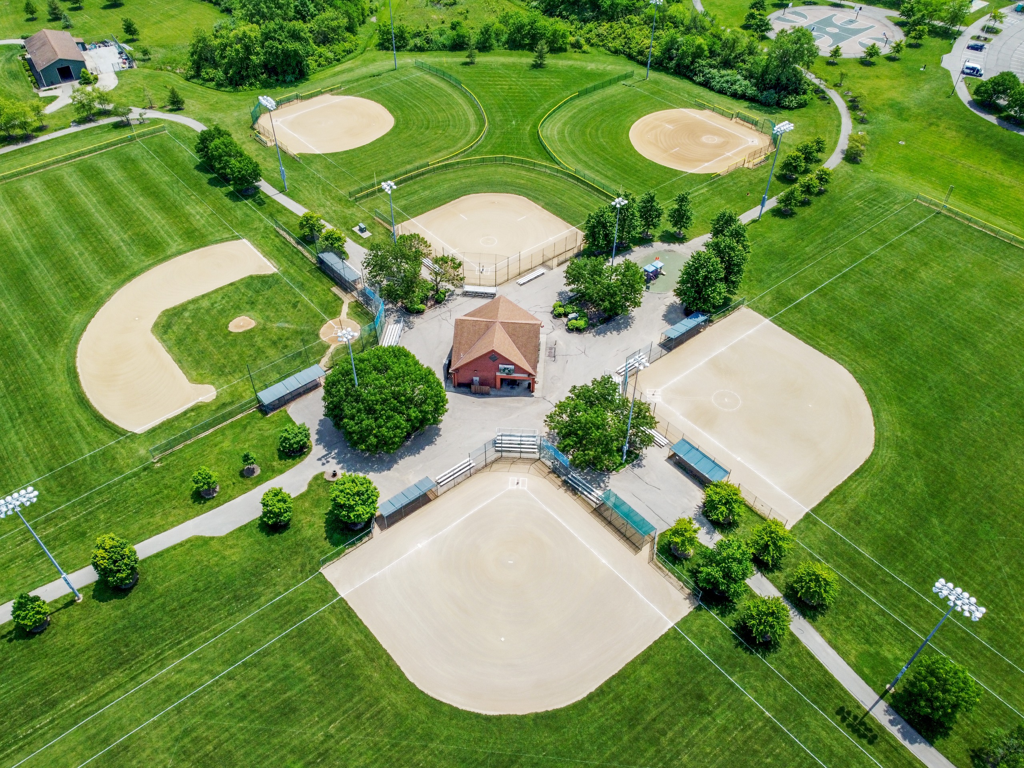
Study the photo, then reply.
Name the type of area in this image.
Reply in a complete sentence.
It's a sports ground.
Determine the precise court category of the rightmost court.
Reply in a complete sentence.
Specifically, the rightmost court is a basketball court.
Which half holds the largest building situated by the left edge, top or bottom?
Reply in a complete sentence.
You can find the largest building situated by the left edge in the top half.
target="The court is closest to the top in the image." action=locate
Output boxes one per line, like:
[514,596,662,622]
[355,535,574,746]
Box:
[767,6,906,58]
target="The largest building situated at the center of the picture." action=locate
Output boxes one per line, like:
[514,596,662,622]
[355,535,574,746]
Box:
[451,295,542,392]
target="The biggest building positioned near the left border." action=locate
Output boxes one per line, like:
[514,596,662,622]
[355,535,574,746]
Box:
[23,29,89,87]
